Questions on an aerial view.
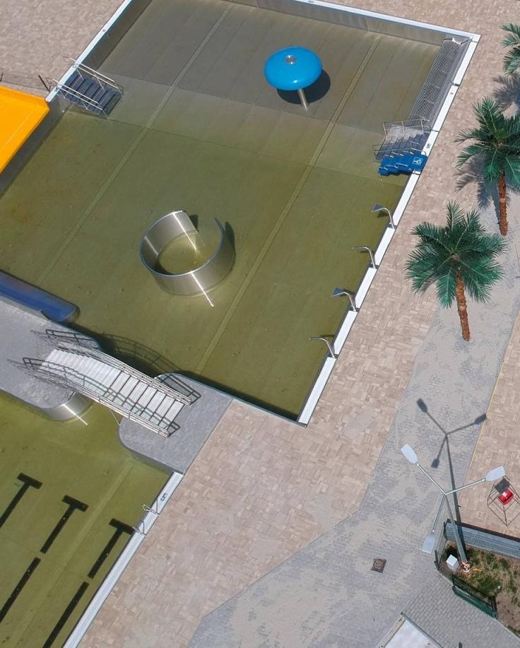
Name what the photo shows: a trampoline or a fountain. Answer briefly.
fountain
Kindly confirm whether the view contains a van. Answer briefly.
No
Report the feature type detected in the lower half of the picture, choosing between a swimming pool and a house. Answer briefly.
swimming pool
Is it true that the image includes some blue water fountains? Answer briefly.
Yes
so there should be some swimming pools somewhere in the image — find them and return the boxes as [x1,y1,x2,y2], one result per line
[0,438,185,648]
[0,0,482,484]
